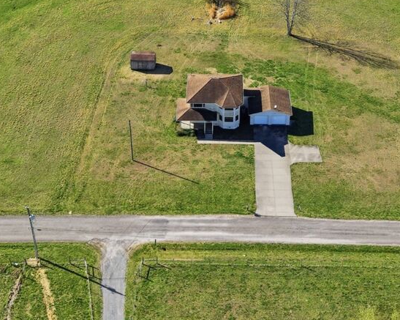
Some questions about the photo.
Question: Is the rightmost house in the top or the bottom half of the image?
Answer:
top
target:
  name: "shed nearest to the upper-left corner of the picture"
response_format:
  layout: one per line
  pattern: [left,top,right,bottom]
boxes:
[129,50,155,69]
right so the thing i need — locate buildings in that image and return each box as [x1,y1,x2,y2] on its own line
[176,74,294,141]
[129,50,155,69]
